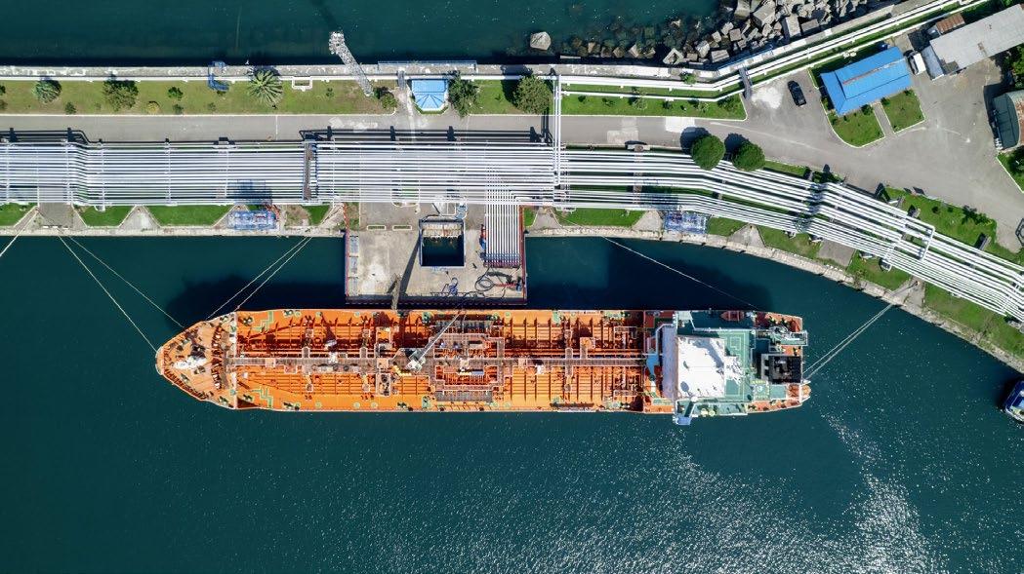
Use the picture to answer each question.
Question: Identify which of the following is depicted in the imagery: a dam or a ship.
ship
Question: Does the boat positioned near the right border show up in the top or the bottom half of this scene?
bottom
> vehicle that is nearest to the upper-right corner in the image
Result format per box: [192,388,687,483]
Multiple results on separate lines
[918,28,936,43]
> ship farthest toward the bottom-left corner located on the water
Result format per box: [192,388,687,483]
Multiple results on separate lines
[155,309,812,426]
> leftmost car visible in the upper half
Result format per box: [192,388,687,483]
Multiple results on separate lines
[787,81,805,107]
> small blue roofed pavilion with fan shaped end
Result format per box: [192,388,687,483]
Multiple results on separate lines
[411,79,451,111]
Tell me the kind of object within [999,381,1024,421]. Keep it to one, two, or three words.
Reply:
boat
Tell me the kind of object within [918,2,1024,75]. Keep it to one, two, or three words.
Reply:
building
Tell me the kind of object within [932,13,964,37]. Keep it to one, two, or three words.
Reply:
shed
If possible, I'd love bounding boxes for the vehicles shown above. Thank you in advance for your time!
[869,40,892,55]
[918,28,936,43]
[905,52,926,79]
[787,81,805,107]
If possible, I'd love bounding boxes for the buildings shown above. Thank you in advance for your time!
[918,2,1024,75]
[411,79,451,111]
[992,94,1024,146]
[815,45,912,116]
[932,13,964,37]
